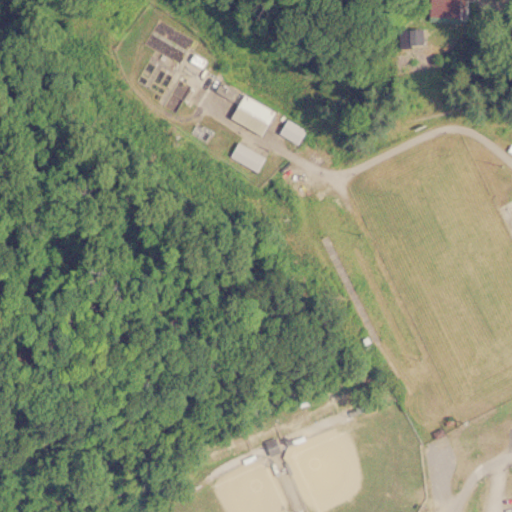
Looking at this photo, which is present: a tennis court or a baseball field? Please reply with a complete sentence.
This aerial view contains a baseball field.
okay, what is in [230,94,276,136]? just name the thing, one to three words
building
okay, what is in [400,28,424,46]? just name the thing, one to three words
building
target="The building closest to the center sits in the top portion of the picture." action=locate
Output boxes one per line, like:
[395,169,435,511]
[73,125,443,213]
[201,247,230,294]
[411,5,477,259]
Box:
[231,142,267,174]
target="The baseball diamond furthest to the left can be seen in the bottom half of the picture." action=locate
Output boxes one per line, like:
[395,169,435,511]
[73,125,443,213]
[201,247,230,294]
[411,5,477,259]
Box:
[214,462,290,512]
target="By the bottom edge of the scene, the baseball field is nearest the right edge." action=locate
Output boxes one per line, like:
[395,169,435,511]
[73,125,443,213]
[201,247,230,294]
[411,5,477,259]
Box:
[268,401,424,512]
